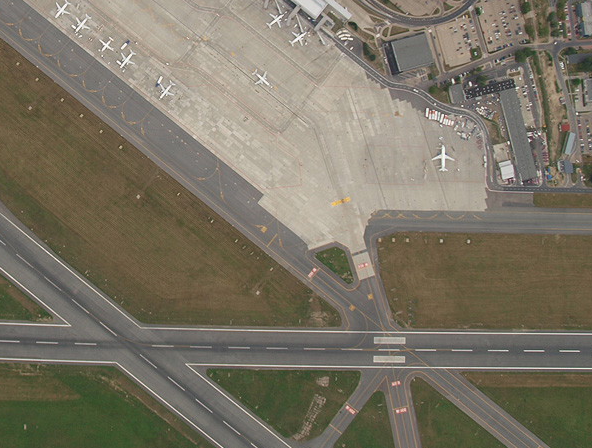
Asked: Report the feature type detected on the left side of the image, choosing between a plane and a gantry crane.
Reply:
plane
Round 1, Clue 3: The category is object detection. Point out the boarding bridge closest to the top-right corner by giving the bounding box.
[314,18,326,45]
